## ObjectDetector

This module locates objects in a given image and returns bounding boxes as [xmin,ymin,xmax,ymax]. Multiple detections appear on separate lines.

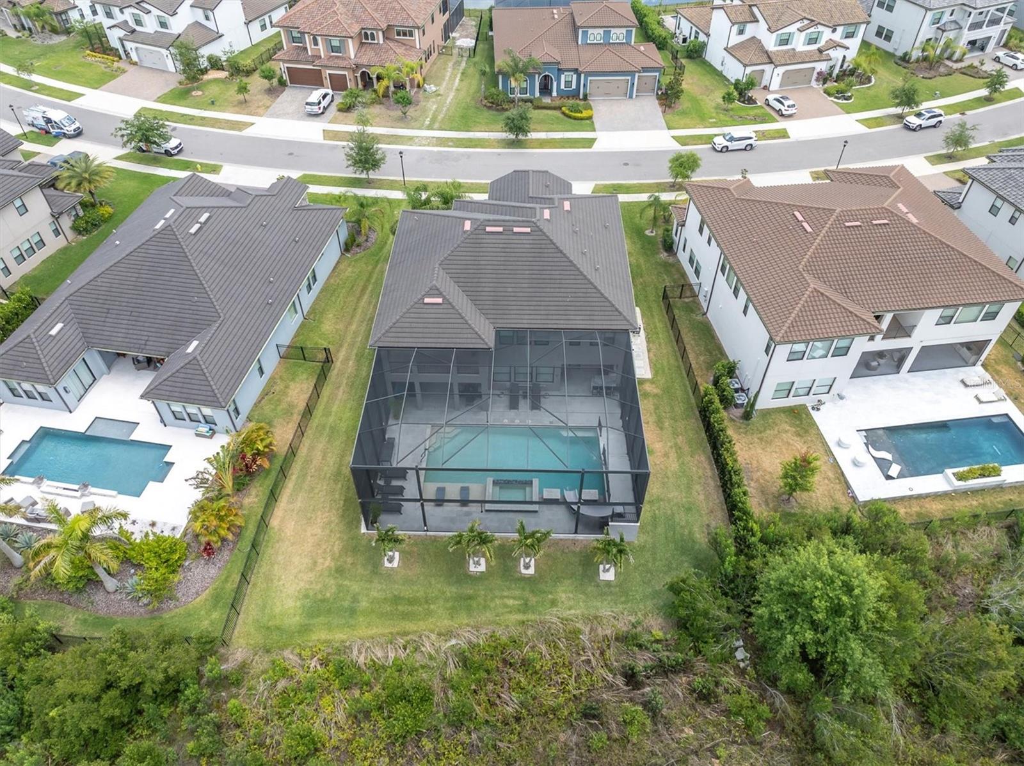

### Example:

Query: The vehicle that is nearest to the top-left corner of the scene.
[22,100,80,138]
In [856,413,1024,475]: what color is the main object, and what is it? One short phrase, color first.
blue swimming pool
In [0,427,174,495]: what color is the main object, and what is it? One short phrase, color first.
blue swimming pool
